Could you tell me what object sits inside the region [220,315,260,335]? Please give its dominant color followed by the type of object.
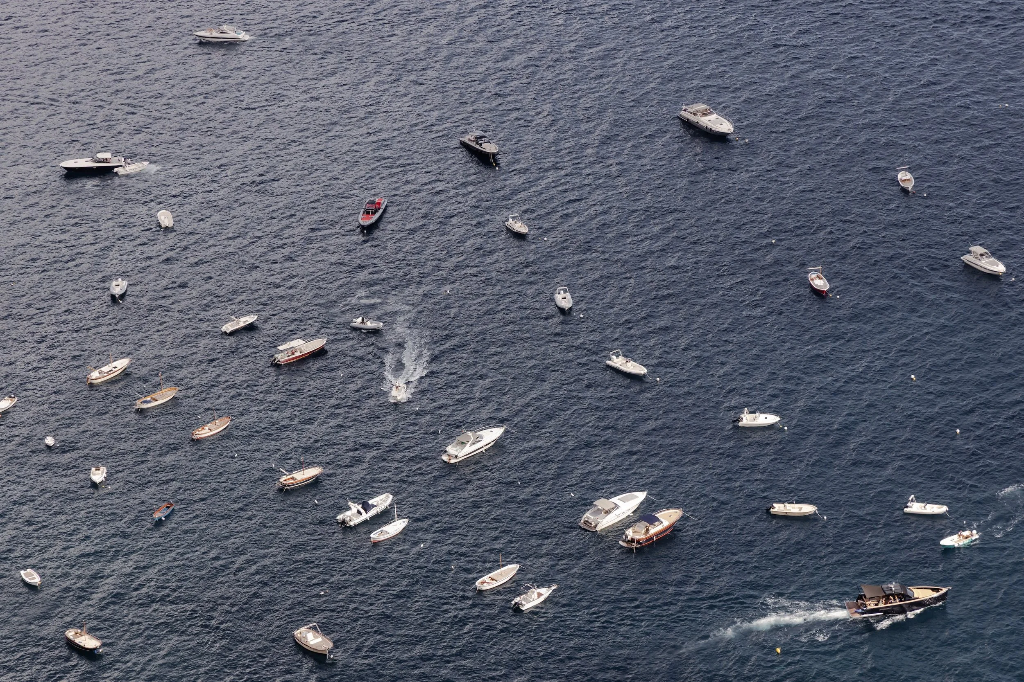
white boat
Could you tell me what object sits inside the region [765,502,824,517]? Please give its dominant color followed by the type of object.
white boat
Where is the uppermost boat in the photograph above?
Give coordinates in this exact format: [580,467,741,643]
[194,25,249,42]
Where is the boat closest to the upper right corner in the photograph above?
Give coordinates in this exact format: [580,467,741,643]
[898,164,913,191]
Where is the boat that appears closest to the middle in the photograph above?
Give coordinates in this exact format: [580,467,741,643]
[555,286,574,314]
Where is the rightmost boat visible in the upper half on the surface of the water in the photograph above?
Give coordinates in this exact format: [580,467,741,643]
[961,247,1006,276]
